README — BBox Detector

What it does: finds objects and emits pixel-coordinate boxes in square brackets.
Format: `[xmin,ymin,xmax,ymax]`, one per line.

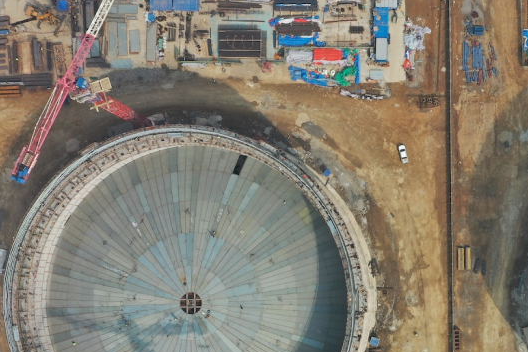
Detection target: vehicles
[369,252,381,276]
[398,144,408,163]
